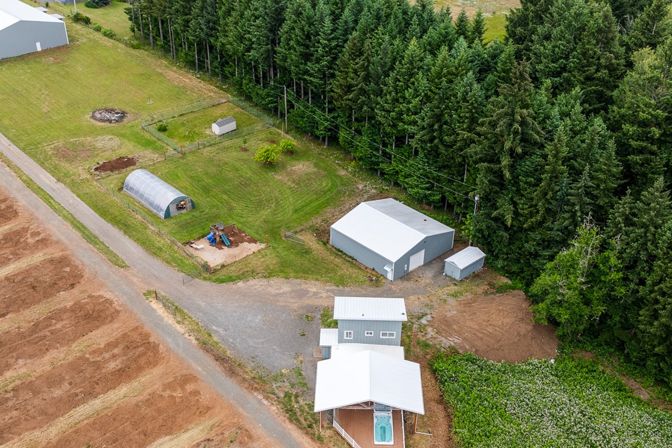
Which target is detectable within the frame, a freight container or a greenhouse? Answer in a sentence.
This aerial view contains a greenhouse.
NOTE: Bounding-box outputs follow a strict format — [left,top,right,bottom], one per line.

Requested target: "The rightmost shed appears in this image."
[441,246,488,283]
